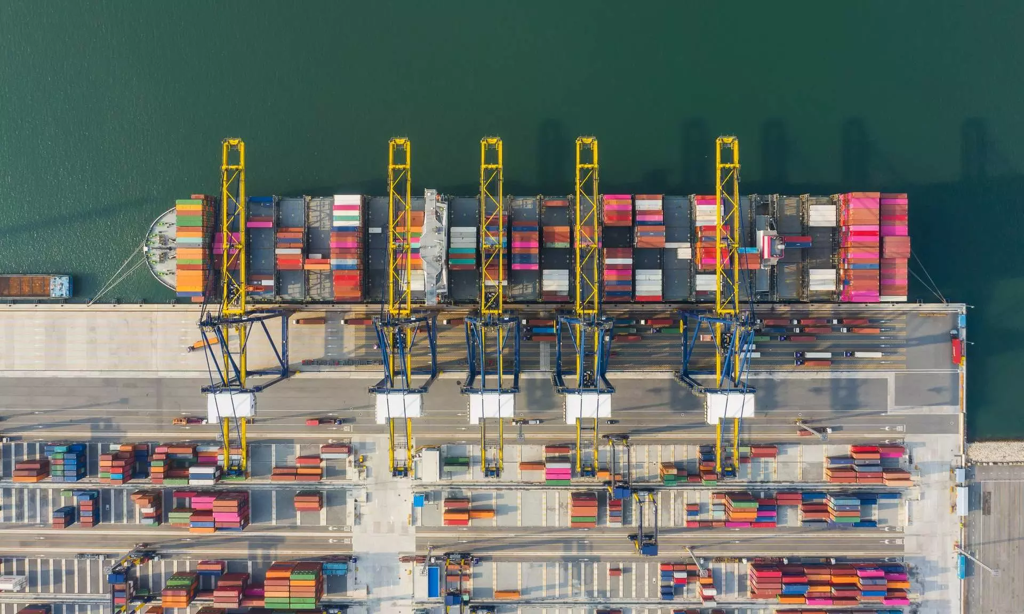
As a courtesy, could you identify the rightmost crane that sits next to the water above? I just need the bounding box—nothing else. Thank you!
[660,135,766,474]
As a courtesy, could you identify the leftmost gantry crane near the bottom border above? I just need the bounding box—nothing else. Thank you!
[109,554,151,614]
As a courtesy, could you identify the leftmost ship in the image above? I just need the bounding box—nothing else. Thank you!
[0,275,76,297]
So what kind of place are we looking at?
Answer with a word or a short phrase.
port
